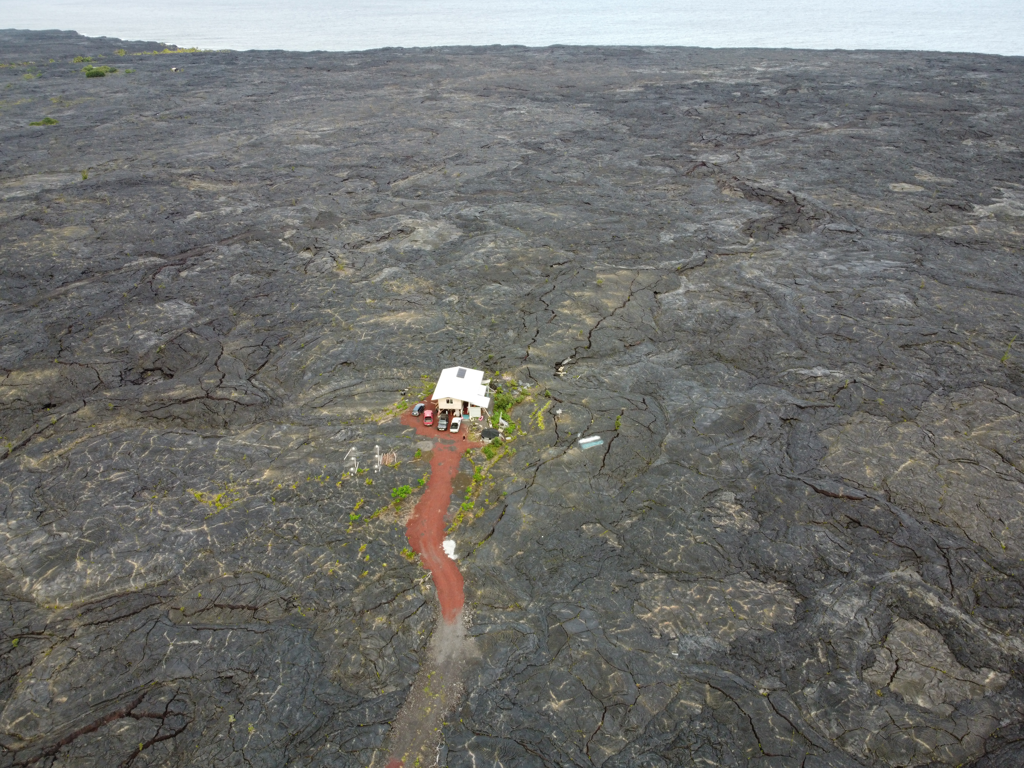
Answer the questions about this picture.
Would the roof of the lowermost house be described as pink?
No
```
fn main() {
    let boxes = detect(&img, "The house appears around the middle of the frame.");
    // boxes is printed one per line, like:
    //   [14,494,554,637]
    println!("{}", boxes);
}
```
[432,365,490,419]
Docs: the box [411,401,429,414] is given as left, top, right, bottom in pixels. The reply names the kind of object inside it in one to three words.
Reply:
vehicle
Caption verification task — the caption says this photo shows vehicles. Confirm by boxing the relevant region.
[423,407,434,423]
[436,410,447,428]
[411,401,429,414]
[449,413,463,431]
